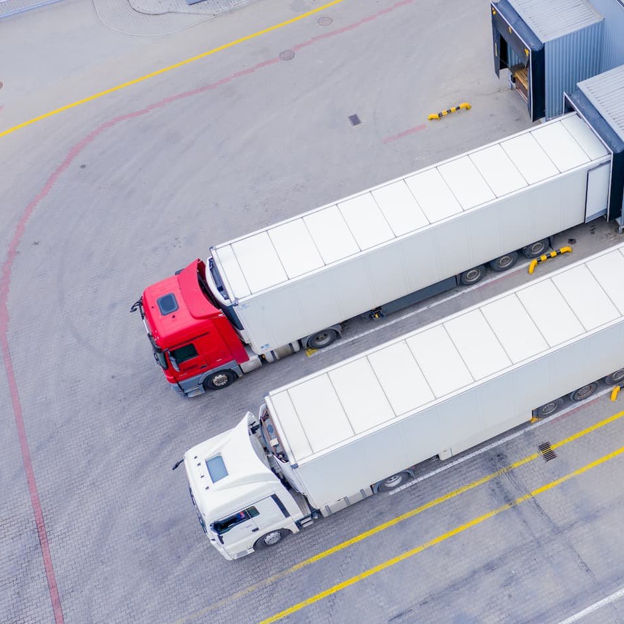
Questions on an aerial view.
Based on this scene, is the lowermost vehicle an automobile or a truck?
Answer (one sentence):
What you see as the lowermost vehicle is a truck.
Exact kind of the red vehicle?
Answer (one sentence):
Specifically, the red vehicle is a truck.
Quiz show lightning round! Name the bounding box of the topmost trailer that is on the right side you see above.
[207,112,610,355]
